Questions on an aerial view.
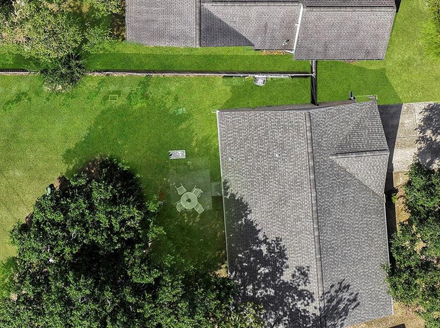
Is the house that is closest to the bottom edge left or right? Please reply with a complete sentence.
You can find the house that is closest to the bottom edge on the right side of the picture.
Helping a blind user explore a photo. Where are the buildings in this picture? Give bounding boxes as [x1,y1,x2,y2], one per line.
[211,97,395,328]
[123,0,397,62]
